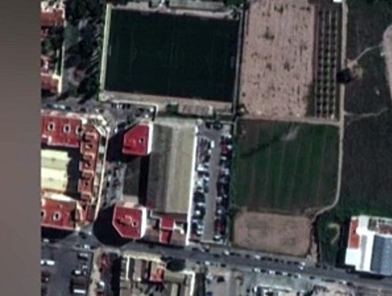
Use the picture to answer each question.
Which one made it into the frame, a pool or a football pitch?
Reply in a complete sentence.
Of the two, only a football pitch appears.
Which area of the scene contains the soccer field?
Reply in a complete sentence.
The soccer field is in the top part of the image.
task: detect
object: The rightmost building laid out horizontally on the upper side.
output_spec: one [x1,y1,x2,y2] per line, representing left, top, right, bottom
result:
[178,104,213,117]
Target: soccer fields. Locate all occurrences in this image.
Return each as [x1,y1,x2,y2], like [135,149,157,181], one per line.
[98,4,242,114]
